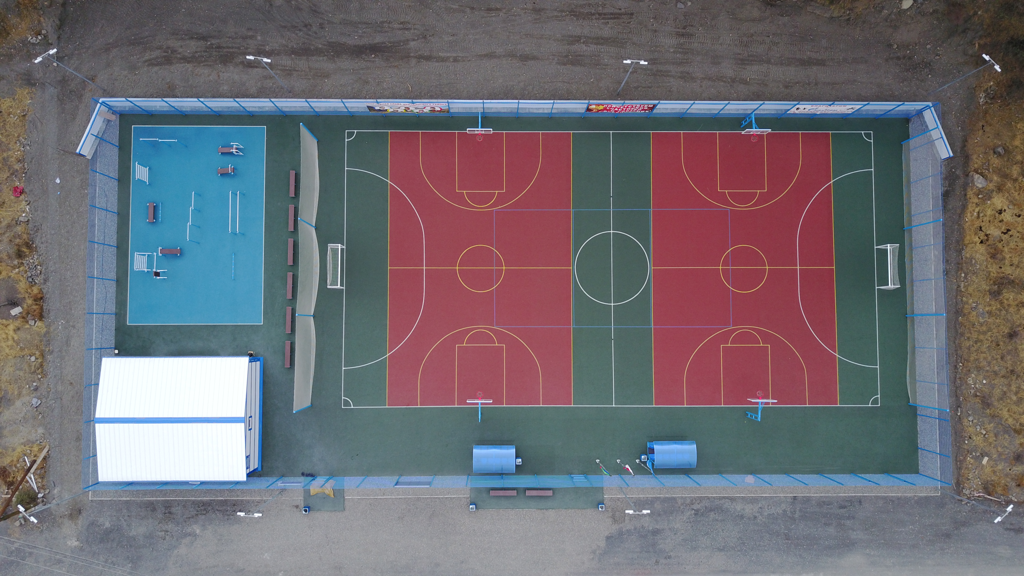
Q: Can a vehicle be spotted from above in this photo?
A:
No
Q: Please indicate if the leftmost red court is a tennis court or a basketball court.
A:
basketball court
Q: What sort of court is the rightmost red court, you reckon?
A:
basketball court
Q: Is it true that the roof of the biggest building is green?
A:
No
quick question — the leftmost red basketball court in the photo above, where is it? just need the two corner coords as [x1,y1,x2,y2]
[387,132,573,406]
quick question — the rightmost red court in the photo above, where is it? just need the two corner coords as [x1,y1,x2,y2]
[651,132,839,405]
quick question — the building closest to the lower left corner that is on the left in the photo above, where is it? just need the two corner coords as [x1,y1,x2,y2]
[93,355,263,483]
